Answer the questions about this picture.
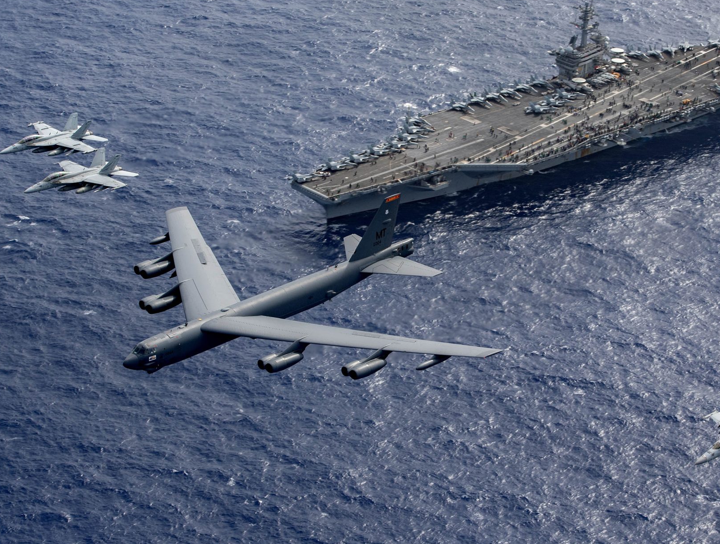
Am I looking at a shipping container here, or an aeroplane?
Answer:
aeroplane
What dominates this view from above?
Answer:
water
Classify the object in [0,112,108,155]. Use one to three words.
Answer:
airplane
